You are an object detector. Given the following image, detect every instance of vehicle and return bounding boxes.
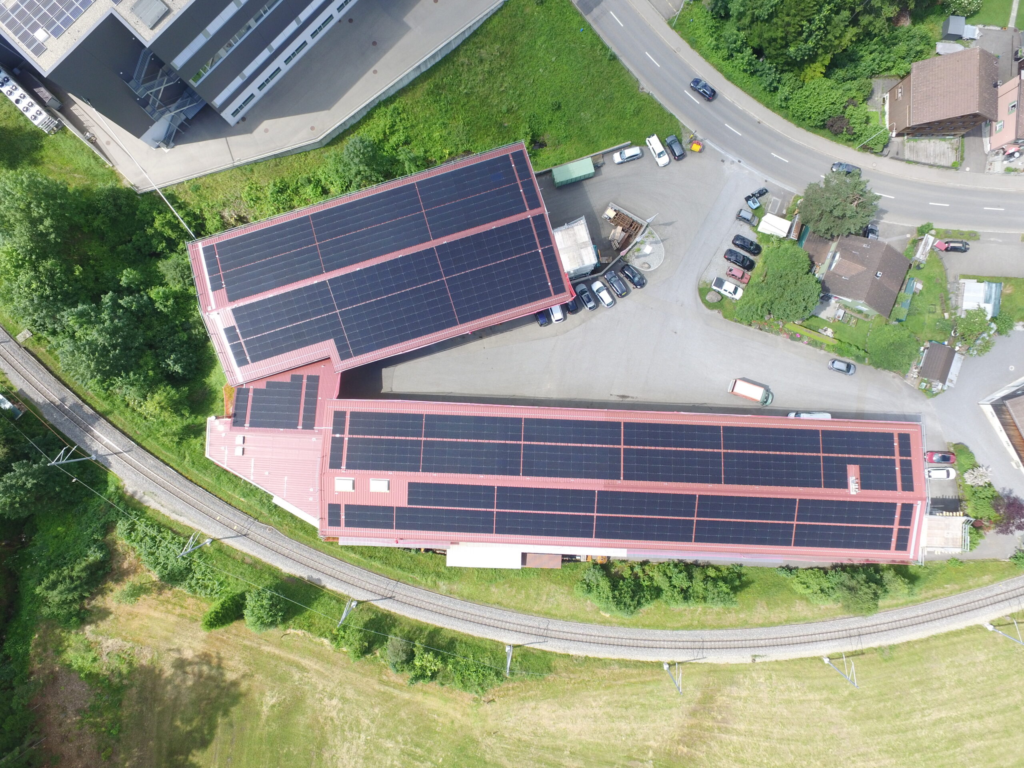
[725,377,773,405]
[825,358,854,376]
[605,270,627,300]
[547,304,564,324]
[592,280,614,310]
[665,134,686,163]
[565,297,581,315]
[593,242,604,268]
[733,208,760,229]
[620,261,646,292]
[709,275,743,301]
[745,195,763,212]
[722,248,754,273]
[786,409,834,418]
[612,146,642,166]
[926,466,955,481]
[828,158,859,177]
[575,283,597,313]
[724,265,750,286]
[730,233,761,257]
[533,308,550,327]
[942,239,969,254]
[644,132,669,170]
[863,222,881,242]
[687,78,719,104]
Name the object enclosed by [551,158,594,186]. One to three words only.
shipping container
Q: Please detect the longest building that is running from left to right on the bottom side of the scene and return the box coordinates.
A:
[314,398,928,562]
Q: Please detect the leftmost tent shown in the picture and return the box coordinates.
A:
[752,213,791,237]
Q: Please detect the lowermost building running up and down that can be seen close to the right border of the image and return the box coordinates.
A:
[978,376,1024,487]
